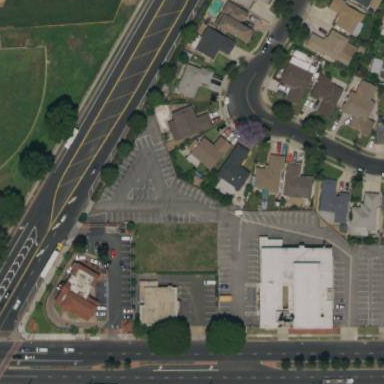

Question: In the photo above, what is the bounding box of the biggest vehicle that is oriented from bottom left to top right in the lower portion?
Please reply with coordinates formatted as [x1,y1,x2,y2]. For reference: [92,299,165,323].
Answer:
[38,244,63,280]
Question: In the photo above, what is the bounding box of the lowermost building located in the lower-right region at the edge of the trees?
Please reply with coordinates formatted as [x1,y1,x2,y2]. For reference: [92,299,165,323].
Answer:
[257,236,334,328]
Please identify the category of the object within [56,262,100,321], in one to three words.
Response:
building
